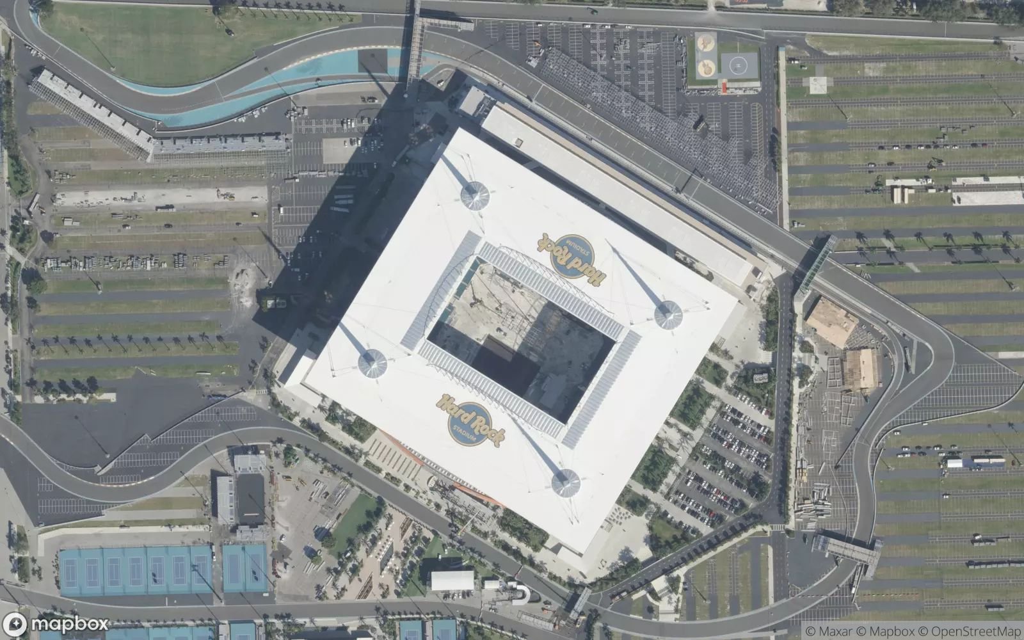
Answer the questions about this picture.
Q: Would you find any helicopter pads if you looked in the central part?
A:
No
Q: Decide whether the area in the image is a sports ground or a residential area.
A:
sports ground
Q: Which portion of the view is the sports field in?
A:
center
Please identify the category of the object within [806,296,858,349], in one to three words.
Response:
shed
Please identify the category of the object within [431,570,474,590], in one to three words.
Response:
building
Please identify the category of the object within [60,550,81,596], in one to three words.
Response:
tennis court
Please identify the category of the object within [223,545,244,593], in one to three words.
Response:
tennis court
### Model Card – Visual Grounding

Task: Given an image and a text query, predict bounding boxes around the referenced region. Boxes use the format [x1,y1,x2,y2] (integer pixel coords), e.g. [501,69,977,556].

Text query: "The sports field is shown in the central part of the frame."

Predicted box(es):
[428,262,614,423]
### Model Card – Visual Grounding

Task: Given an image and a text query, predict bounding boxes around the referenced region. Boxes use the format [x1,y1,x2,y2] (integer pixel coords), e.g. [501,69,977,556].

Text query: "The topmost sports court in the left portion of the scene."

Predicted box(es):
[237,474,264,524]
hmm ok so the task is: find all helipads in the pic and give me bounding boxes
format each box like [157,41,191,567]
[721,44,757,79]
